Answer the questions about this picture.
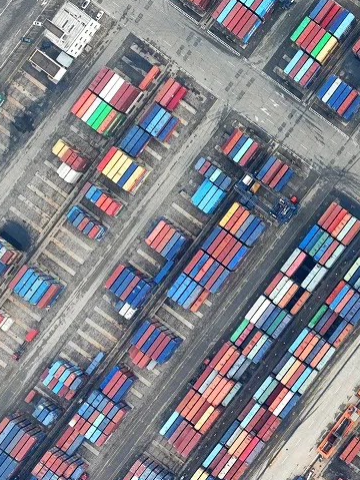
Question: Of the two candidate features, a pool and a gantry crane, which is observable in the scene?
gantry crane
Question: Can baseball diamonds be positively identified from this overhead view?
No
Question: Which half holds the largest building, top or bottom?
top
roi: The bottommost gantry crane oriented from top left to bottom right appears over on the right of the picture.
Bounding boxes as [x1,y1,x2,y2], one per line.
[227,171,293,223]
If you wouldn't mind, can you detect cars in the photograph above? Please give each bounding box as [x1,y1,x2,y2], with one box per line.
[82,0,91,11]
[96,11,105,21]
[41,41,52,49]
[32,20,43,27]
[22,36,32,44]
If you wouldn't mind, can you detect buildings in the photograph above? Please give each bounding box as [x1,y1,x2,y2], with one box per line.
[28,48,74,86]
[43,2,104,61]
